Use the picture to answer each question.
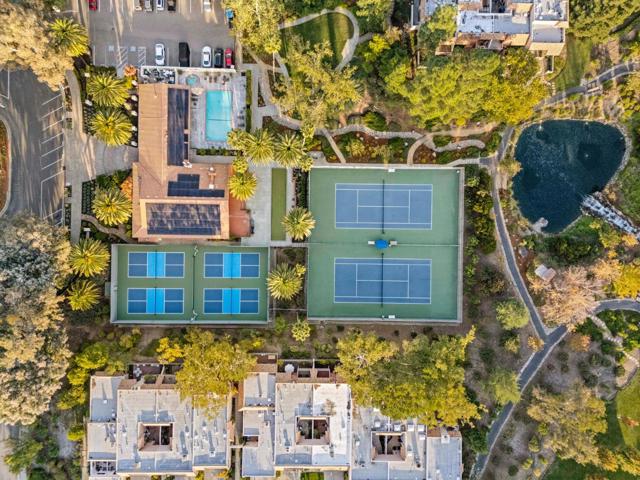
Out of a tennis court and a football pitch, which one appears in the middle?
tennis court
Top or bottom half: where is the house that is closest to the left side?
bottom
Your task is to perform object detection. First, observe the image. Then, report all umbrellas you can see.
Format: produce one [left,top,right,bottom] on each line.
[284,362,295,372]
[191,85,204,98]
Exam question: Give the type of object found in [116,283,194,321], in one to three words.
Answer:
sports court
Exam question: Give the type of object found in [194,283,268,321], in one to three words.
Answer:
sports court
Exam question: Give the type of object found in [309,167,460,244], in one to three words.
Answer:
tennis court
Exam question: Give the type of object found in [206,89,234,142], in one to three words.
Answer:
swimming pool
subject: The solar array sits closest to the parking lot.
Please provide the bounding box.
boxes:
[167,88,189,166]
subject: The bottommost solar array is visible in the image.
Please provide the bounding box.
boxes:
[145,204,221,234]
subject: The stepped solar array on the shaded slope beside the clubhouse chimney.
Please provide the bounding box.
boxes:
[167,174,224,196]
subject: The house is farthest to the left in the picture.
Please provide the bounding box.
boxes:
[87,369,129,480]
